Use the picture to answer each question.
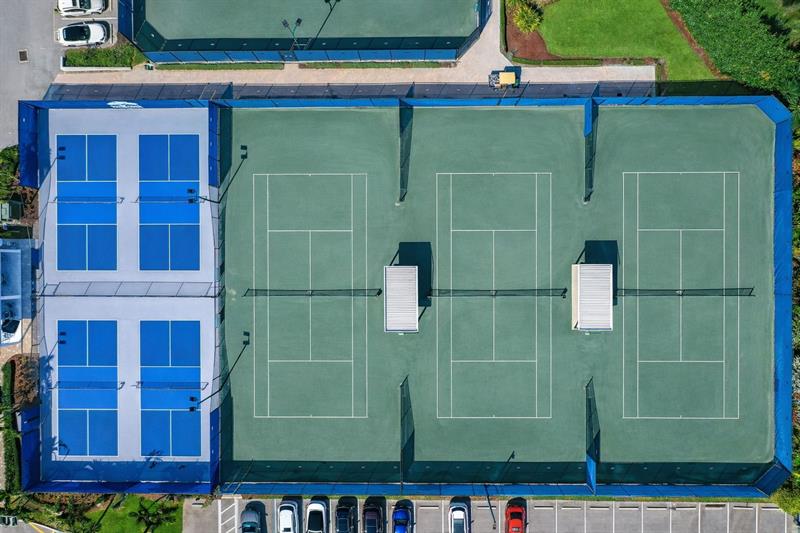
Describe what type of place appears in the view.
sports ground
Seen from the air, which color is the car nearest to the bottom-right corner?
red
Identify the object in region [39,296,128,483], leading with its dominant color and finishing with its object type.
blue sports court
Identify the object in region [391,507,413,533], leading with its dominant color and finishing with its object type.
blue car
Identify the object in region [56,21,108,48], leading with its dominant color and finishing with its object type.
white car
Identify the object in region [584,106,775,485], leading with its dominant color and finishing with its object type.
green tennis court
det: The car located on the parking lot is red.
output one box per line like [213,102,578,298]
[505,504,525,533]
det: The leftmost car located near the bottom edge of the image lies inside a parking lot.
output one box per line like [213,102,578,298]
[238,506,262,533]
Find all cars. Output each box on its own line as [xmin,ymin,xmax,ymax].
[448,503,469,533]
[238,506,262,533]
[334,504,355,533]
[54,0,108,19]
[505,504,525,533]
[279,503,299,533]
[391,507,413,533]
[362,504,382,533]
[306,503,327,533]
[56,21,108,48]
